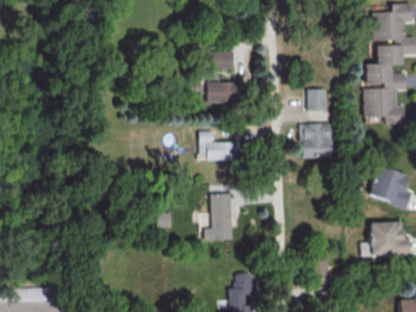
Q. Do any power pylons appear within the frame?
No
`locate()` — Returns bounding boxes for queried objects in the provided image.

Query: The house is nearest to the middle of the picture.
[199,131,234,162]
